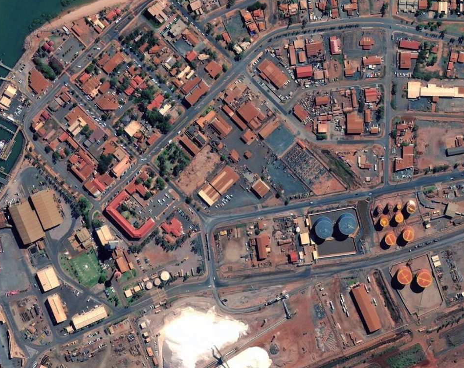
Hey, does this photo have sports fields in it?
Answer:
No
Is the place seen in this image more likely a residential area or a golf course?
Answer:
residential area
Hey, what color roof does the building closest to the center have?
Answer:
red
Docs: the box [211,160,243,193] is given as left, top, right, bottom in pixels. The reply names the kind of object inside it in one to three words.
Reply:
building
